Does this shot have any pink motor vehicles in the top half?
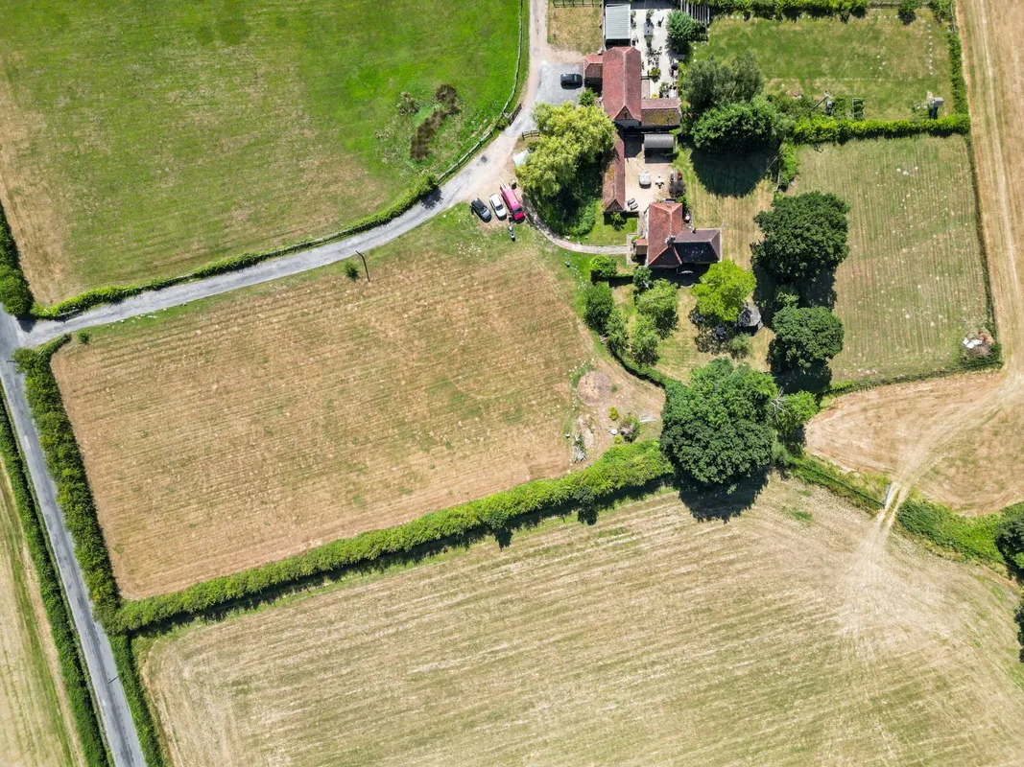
Yes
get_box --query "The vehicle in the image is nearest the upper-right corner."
[560,73,583,87]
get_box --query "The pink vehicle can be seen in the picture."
[501,186,523,221]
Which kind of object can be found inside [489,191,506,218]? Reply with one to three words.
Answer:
car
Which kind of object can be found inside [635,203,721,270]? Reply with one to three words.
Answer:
house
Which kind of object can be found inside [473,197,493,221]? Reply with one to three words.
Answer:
car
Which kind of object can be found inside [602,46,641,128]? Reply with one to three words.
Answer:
barn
